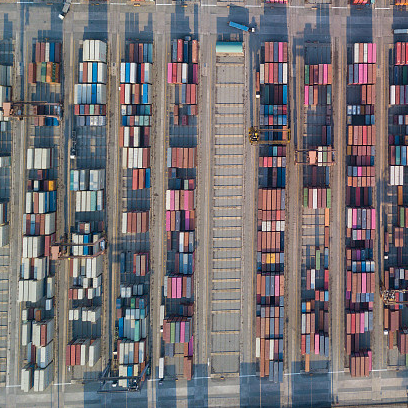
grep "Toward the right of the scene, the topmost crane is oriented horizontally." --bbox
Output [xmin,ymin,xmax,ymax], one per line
[245,126,292,146]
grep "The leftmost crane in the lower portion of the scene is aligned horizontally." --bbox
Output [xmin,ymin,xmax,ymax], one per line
[48,235,109,259]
